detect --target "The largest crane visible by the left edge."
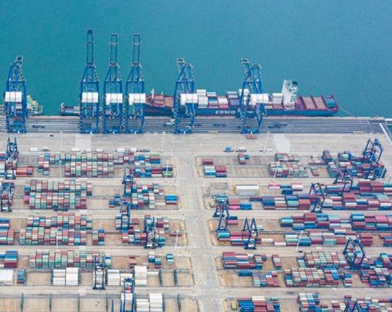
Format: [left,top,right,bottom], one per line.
[5,58,28,133]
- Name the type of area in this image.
port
